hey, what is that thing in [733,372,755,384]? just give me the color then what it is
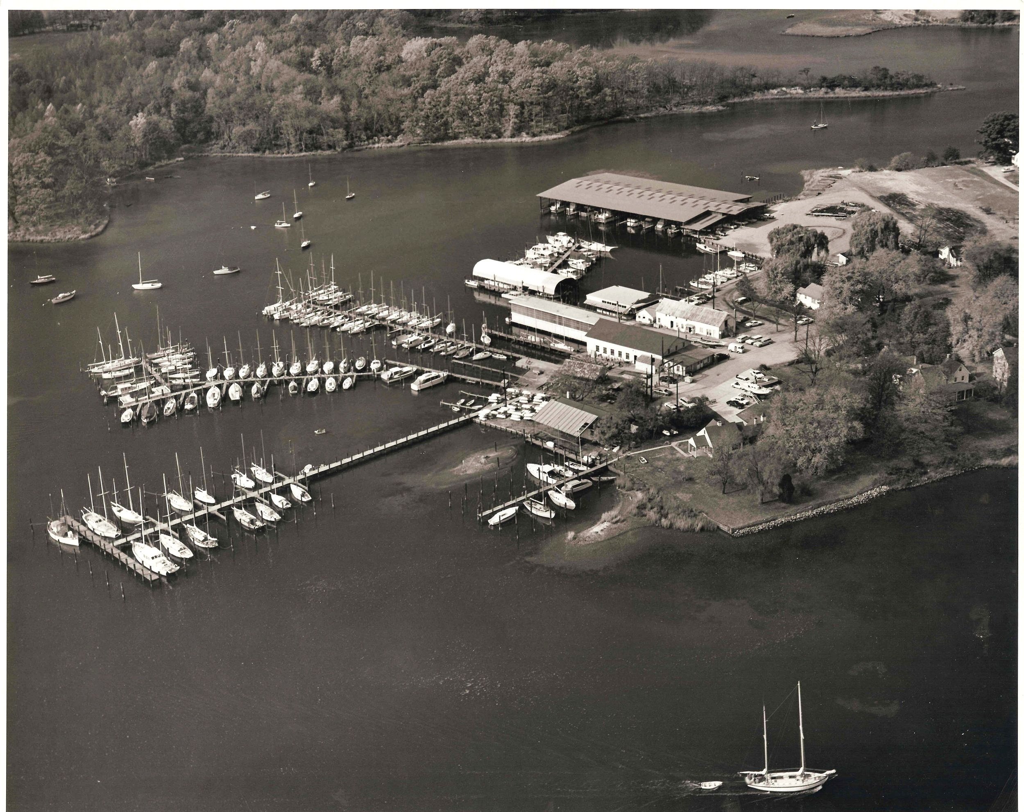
white vehicle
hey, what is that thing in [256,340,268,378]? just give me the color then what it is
white boat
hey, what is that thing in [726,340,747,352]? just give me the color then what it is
white vehicle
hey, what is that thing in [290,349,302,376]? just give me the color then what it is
white boat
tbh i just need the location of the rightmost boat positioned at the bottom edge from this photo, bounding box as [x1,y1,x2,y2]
[743,682,835,794]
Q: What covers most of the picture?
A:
water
